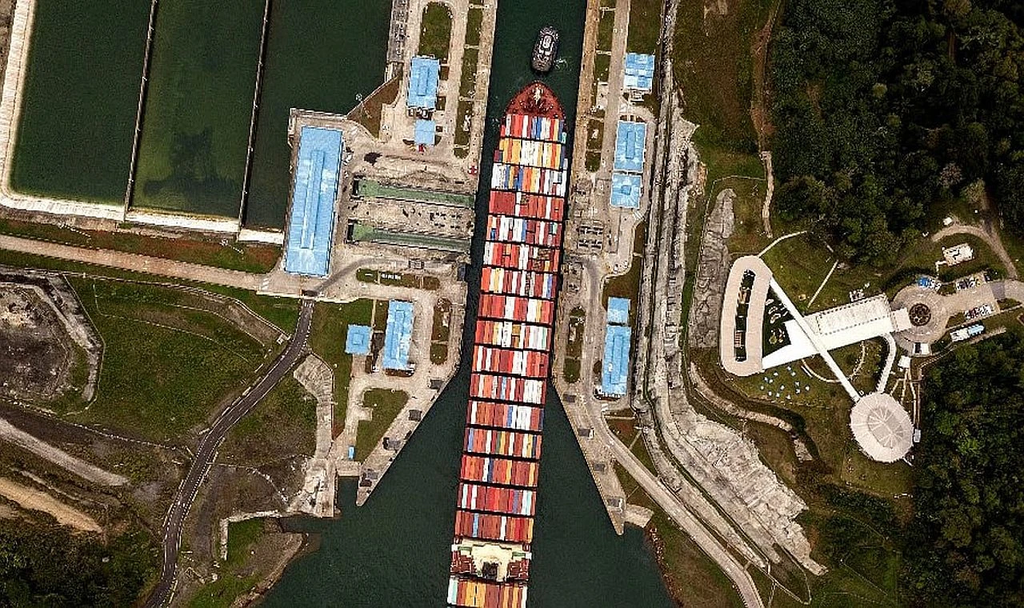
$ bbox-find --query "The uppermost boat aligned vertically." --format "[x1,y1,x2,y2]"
[532,25,558,75]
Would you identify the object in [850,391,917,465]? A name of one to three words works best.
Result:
building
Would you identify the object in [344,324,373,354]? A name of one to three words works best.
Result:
building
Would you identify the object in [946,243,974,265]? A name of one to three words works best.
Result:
house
